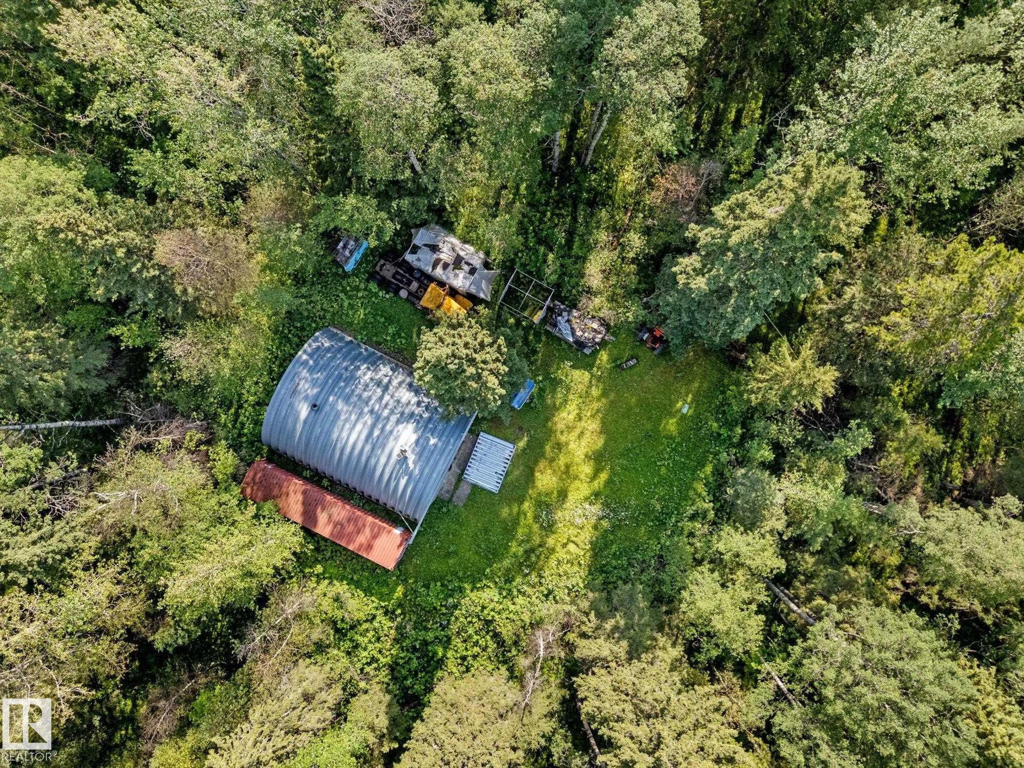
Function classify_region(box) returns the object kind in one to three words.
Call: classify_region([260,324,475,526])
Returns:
shed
